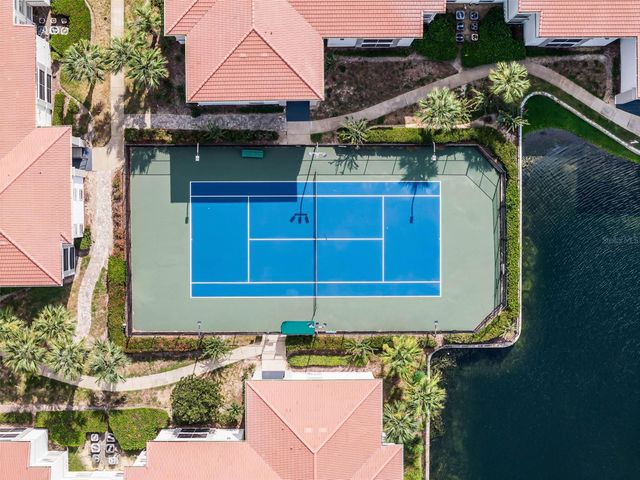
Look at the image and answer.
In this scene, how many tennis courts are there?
one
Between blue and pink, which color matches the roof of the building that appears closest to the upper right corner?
pink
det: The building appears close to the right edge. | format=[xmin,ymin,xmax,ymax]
[506,0,640,118]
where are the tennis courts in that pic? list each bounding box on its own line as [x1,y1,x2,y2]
[131,148,502,331]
